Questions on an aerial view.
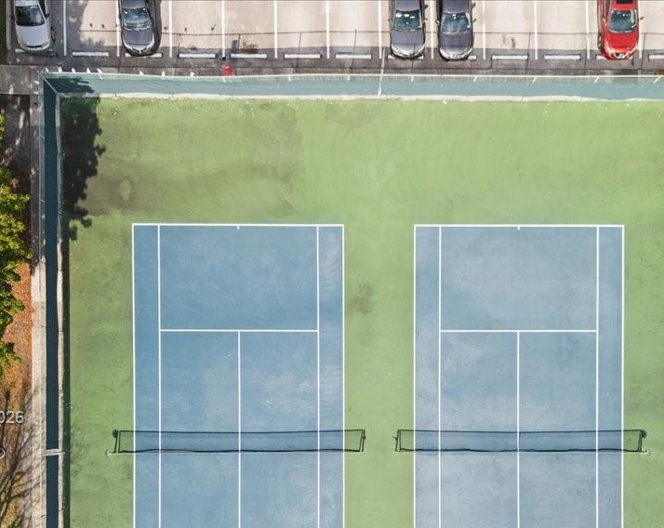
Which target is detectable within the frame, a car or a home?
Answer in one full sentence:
The one in the frame is a car.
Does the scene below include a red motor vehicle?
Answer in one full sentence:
Yes, there's a red motor vehicle down there.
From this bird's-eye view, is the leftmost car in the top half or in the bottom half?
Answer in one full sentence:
Seen from above, the leftmost car lies in the top half of the view.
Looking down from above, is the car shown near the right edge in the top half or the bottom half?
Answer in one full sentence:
You can find the car shown near the right edge in the top half.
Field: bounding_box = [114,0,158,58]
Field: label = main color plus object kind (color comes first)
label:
gray car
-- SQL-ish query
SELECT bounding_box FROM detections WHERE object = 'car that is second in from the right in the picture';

[436,0,479,62]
